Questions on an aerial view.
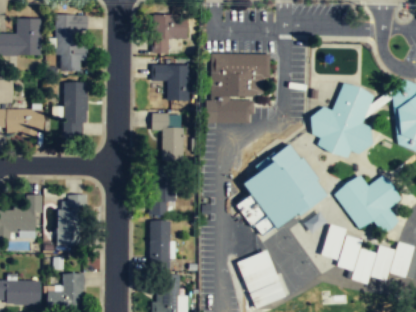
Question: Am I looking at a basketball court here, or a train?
basketball court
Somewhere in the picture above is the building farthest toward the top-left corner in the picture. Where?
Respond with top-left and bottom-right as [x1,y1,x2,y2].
[0,17,41,54]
